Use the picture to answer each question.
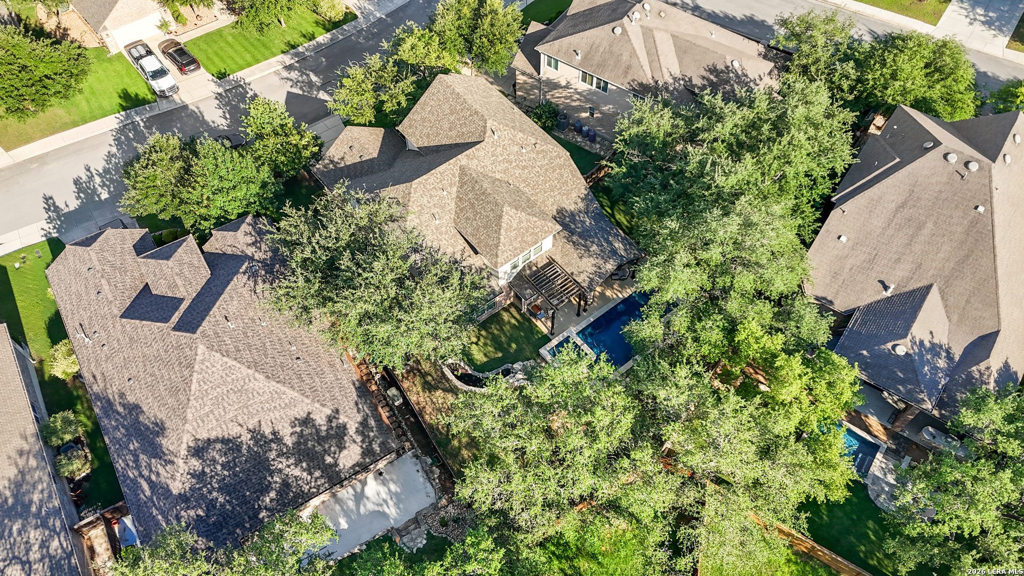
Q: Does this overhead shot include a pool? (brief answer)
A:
Yes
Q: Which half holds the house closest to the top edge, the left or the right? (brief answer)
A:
left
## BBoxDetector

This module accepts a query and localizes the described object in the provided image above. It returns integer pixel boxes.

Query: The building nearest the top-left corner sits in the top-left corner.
[69,0,176,51]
